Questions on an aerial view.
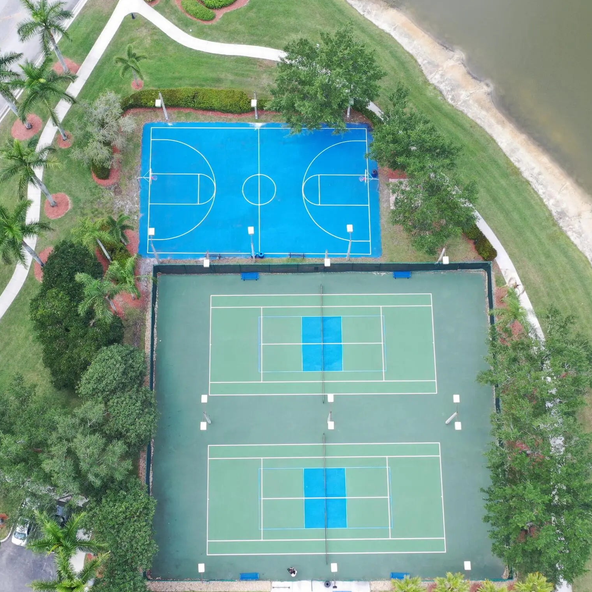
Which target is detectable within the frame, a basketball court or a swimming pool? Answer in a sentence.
Looking from above, you can make out a basketball court.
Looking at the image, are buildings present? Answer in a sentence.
No, I can see no building in this picture.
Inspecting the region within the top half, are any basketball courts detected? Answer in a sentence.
Yes, a basketball court shows up within the top half.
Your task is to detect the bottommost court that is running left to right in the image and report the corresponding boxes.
[149,418,511,579]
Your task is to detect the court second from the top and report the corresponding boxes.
[153,271,495,420]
